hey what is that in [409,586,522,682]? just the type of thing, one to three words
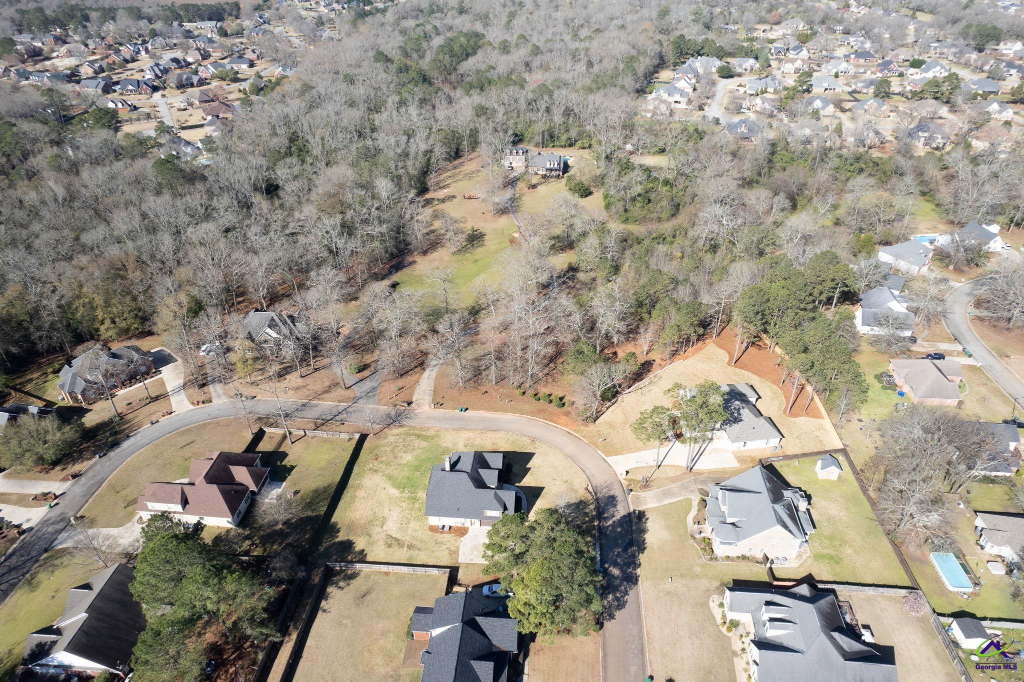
house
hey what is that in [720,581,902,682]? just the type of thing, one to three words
house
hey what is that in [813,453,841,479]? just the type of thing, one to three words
shed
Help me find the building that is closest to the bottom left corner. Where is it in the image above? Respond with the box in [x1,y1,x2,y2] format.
[21,559,164,682]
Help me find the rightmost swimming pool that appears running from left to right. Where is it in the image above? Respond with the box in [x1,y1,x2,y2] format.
[901,232,950,249]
